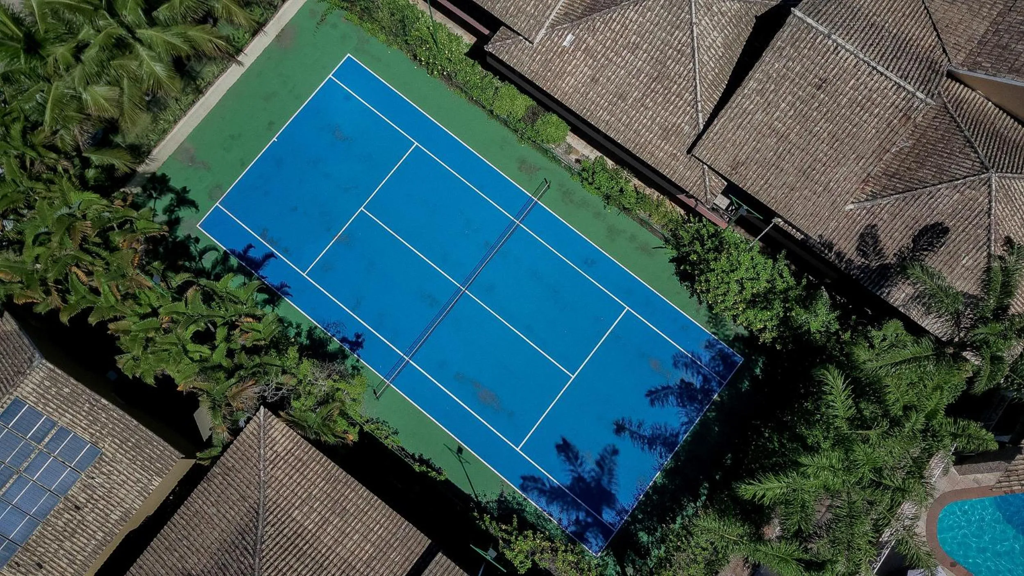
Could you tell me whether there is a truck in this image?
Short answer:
No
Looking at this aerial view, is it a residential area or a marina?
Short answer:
residential area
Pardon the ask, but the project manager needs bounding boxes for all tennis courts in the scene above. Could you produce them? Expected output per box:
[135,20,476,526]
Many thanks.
[136,0,829,576]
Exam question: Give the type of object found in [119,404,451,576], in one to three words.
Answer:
house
